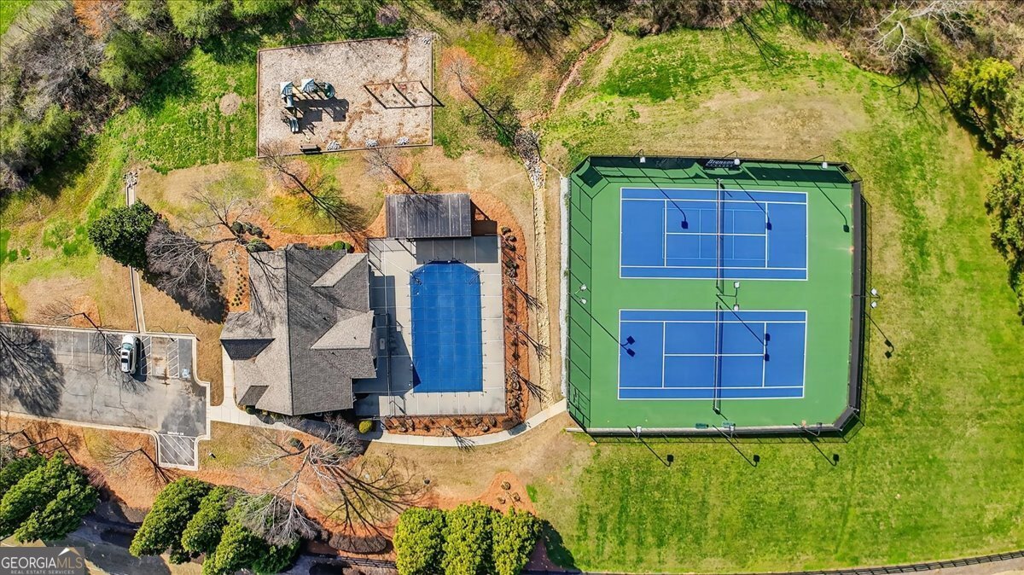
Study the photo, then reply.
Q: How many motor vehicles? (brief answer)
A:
1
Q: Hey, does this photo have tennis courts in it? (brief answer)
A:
Yes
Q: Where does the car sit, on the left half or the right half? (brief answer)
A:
left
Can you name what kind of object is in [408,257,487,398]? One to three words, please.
swimming pool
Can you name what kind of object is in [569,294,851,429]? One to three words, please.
tennis court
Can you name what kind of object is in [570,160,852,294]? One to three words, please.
tennis court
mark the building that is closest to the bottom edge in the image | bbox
[221,249,379,414]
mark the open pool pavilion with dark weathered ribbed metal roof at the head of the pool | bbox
[385,193,471,239]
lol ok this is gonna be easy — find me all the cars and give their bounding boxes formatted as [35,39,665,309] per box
[117,335,140,375]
